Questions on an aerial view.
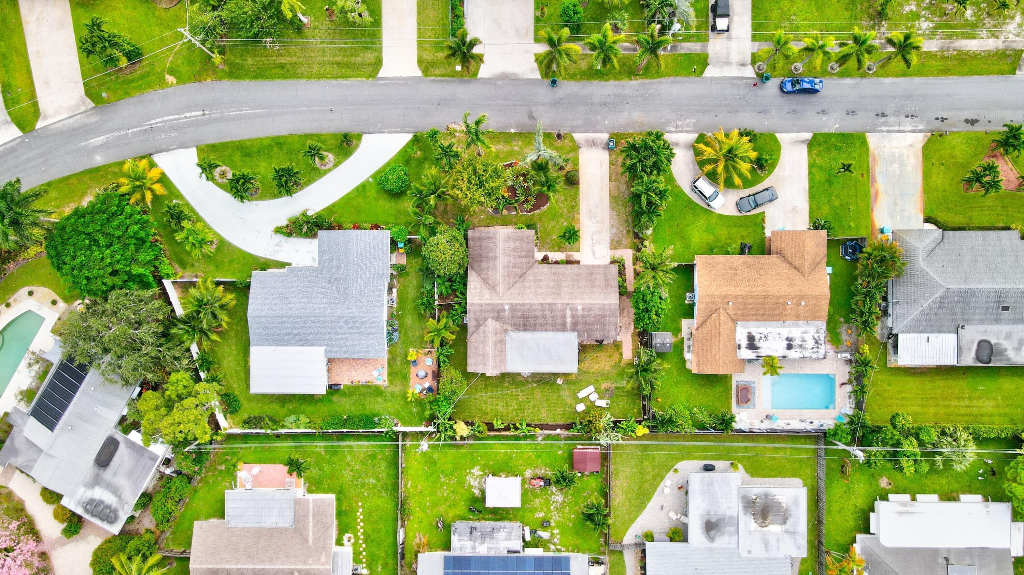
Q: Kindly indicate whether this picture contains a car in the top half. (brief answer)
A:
Yes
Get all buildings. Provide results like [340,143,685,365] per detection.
[573,443,601,472]
[691,229,833,375]
[466,228,620,374]
[645,472,807,575]
[246,229,391,394]
[417,521,589,575]
[188,490,353,575]
[884,229,1024,366]
[0,341,166,536]
[853,494,1024,575]
[650,332,673,352]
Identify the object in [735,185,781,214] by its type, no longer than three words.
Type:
car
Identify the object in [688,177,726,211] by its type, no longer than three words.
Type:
car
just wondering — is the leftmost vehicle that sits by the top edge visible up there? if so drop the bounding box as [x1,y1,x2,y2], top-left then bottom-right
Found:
[711,0,734,34]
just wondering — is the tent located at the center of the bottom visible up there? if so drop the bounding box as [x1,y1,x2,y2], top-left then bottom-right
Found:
[486,473,521,508]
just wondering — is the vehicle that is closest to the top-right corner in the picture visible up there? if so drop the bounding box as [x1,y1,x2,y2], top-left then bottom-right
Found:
[780,73,824,94]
